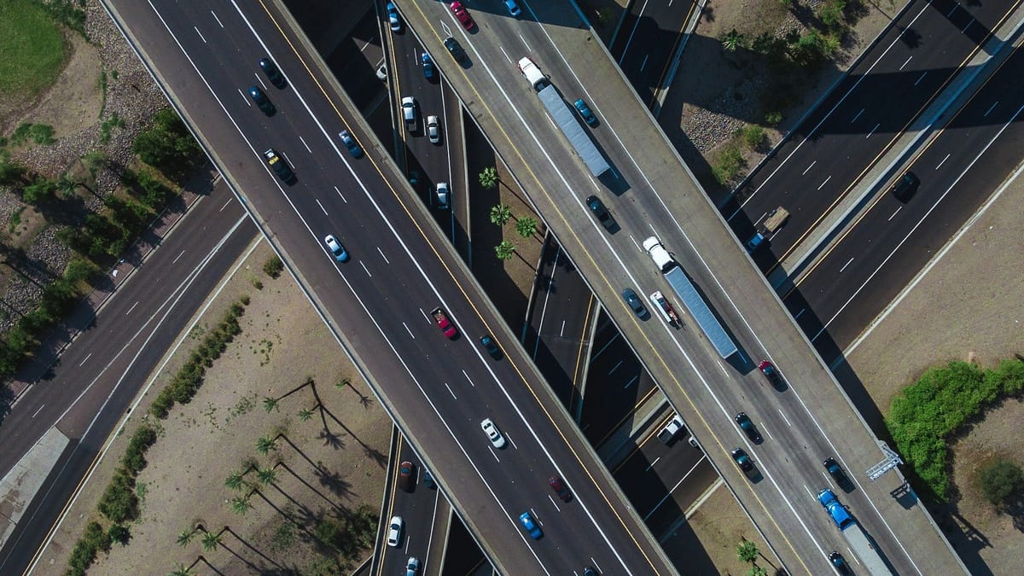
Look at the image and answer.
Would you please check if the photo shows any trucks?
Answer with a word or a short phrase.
Yes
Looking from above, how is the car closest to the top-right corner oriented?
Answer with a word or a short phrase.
at an angle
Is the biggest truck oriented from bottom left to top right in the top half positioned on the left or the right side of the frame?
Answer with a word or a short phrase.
right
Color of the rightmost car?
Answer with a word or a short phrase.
black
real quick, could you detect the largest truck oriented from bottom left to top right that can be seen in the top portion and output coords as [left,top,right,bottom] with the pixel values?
[747,205,790,250]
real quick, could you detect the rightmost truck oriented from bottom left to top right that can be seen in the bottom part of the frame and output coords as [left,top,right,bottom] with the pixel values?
[655,413,684,444]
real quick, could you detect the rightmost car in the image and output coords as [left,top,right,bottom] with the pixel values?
[892,172,919,200]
